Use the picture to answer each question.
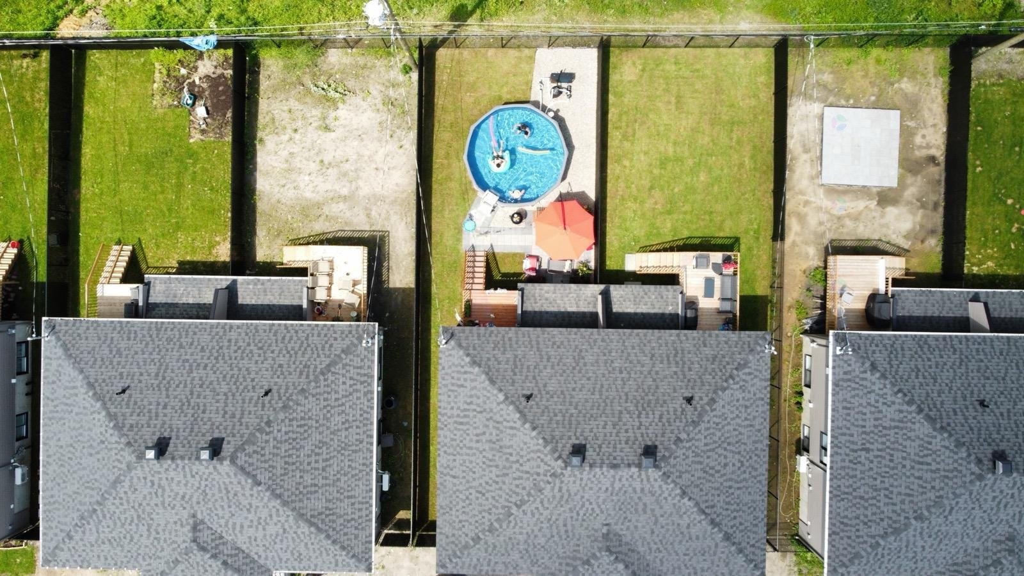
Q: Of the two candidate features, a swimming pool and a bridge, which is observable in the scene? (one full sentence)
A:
I can see a swimming pool in this picture.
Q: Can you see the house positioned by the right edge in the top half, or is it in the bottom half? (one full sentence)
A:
Seen from above, the house positioned by the right edge lies in the bottom half of the view.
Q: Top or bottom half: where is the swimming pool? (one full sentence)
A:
Seen from above, the swimming pool lies in the top half of the view.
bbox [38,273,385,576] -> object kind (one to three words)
house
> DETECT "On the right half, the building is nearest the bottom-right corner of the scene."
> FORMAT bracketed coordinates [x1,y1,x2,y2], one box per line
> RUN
[801,284,1024,576]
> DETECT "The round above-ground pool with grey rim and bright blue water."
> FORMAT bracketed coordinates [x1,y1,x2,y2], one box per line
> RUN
[464,103,569,208]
